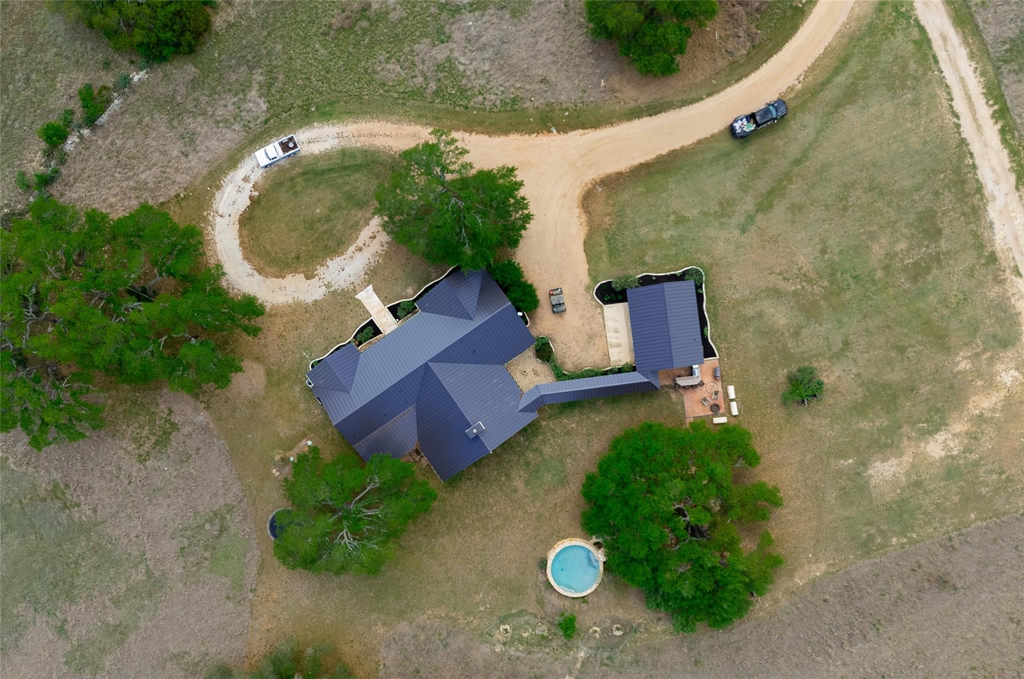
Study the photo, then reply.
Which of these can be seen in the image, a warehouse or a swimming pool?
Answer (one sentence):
The one in the frame is a swimming pool.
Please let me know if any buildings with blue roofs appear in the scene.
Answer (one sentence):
Yes, I can see a building with a blue roof in this picture.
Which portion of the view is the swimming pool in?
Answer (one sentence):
The swimming pool is located in the bottom region of the scene.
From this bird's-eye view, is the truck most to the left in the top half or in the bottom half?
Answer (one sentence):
The truck most to the left sits in the top half of the picture.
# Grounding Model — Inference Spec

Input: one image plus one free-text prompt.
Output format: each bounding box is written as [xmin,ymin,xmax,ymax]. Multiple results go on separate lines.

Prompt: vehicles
[549,286,567,314]
[252,132,299,166]
[731,97,789,136]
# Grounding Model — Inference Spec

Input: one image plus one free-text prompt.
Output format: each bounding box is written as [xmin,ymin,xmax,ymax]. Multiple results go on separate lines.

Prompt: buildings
[627,280,703,371]
[304,266,539,481]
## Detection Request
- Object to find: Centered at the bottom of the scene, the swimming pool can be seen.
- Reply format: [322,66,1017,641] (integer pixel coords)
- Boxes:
[546,536,604,596]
